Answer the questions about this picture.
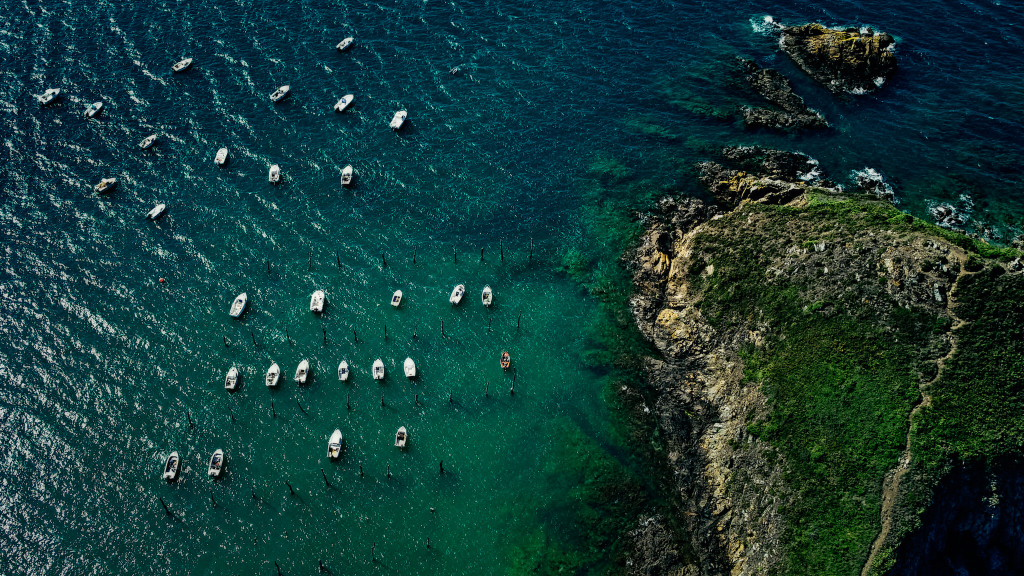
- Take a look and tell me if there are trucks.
No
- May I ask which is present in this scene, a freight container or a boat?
boat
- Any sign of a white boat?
Yes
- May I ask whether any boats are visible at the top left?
Yes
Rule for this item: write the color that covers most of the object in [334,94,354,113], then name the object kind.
white boat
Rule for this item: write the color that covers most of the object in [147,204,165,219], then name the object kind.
white boat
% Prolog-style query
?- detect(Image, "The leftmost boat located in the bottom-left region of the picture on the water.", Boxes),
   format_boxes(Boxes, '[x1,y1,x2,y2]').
[162,451,180,483]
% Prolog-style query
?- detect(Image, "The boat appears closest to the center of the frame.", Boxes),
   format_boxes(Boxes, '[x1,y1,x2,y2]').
[481,282,493,307]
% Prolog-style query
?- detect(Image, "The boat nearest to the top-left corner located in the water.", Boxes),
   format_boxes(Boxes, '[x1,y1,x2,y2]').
[38,88,60,105]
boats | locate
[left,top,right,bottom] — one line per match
[138,133,156,150]
[264,360,280,389]
[162,451,180,483]
[372,355,385,383]
[389,109,408,130]
[310,287,327,315]
[403,356,417,380]
[214,147,229,166]
[500,352,510,370]
[84,102,103,118]
[481,282,493,307]
[171,56,192,72]
[337,359,350,384]
[270,84,289,102]
[394,425,408,451]
[38,88,60,105]
[325,426,343,461]
[389,289,403,308]
[334,94,354,113]
[449,282,465,308]
[95,177,116,194]
[268,164,280,185]
[449,66,459,75]
[340,164,354,187]
[208,448,225,480]
[229,291,247,319]
[336,37,353,51]
[294,357,310,386]
[147,204,165,219]
[224,363,238,392]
